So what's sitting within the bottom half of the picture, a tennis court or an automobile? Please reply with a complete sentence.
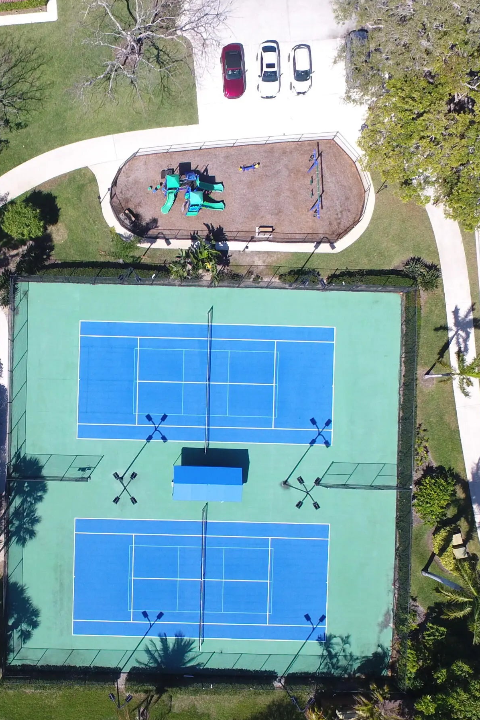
The one visible within the bottom half of the picture is a tennis court.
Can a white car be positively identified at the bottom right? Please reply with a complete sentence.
No, no white car appears at the bottom right.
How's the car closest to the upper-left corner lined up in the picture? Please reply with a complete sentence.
The car closest to the upper-left corner has been laid out from top to bottom relative to the frame.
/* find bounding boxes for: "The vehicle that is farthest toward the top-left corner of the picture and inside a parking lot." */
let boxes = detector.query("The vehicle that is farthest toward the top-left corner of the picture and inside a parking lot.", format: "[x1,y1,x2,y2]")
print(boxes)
[224,40,249,97]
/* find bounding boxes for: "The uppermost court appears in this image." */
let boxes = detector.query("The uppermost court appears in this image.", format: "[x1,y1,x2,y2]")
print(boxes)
[9,282,402,485]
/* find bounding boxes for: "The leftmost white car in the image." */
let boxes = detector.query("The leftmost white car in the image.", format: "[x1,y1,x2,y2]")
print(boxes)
[259,39,285,95]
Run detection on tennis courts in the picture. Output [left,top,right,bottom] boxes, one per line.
[9,282,402,485]
[5,475,396,679]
